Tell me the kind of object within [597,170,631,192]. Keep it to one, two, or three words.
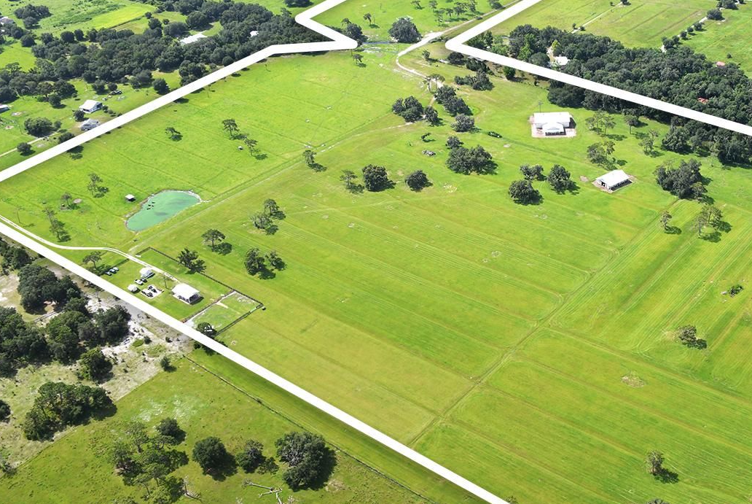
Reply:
barn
